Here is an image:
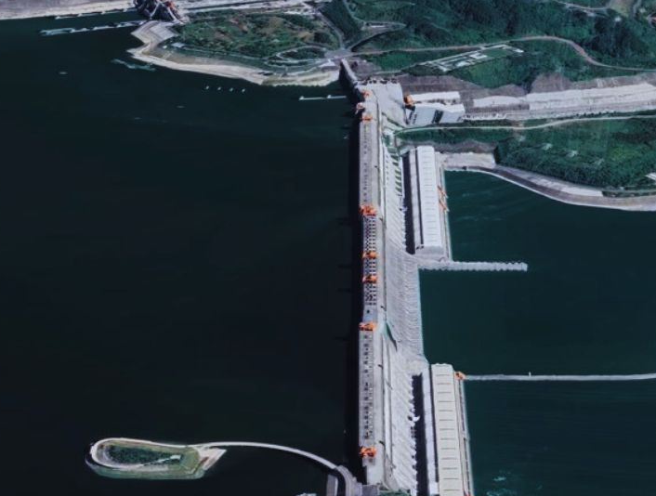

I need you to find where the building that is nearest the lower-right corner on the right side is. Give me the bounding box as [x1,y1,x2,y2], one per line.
[410,365,473,496]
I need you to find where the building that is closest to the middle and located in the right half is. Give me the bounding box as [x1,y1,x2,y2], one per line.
[401,147,451,263]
